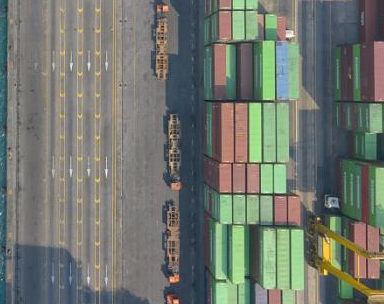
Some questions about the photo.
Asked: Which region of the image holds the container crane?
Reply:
bottom right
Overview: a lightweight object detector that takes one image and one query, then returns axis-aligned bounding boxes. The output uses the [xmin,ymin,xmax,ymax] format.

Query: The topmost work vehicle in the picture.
[155,3,170,26]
